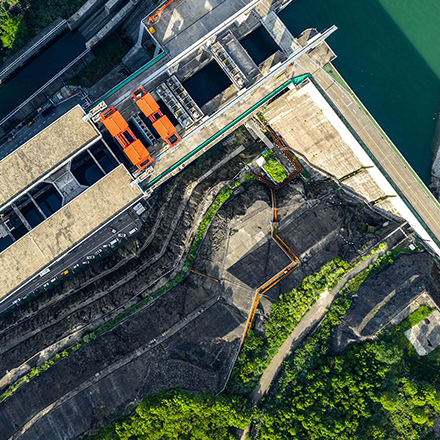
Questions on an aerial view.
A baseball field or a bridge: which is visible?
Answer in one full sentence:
Of the two, only a bridge appears.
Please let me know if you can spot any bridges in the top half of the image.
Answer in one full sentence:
Yes, a bridge shows up in the top half of the image.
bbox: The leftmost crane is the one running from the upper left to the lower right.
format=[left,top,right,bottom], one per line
[98,103,155,175]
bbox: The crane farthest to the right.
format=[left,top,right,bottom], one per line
[128,84,184,150]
